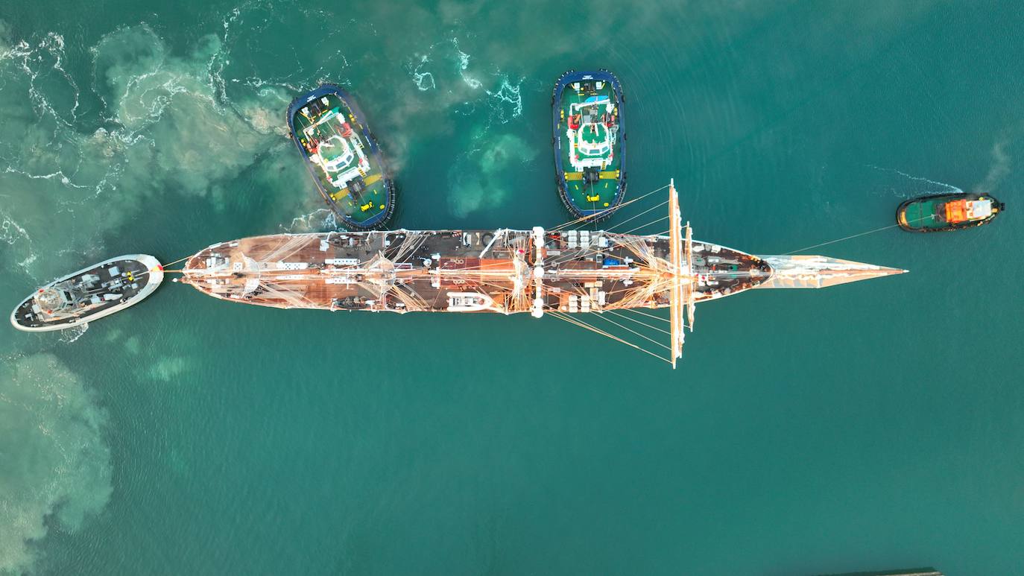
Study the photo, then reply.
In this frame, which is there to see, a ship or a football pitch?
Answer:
ship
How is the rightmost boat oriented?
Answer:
from side to side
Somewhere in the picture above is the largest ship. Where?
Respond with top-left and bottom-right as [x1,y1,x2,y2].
[173,180,908,368]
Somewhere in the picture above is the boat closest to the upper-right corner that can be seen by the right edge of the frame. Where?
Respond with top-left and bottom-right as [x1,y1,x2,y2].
[894,192,1007,233]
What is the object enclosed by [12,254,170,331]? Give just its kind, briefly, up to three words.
boat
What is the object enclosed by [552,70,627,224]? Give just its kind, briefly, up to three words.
boat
